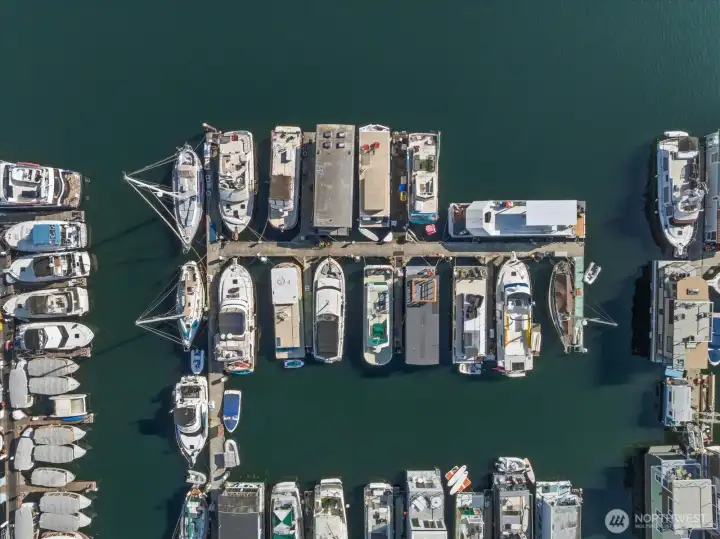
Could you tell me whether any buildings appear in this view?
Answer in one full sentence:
Yes, there's a building down there.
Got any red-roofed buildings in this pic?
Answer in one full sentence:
No, no red-roofed building is visible in the scene.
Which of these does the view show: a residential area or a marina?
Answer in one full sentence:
It's a marina.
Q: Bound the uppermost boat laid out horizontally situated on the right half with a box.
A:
[444,200,586,243]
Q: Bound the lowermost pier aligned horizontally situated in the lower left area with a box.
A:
[14,481,96,494]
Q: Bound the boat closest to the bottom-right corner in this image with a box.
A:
[641,444,720,539]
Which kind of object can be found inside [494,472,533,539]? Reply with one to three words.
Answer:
boat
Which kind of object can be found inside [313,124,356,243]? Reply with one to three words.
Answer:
building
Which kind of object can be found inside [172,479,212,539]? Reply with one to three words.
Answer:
boat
